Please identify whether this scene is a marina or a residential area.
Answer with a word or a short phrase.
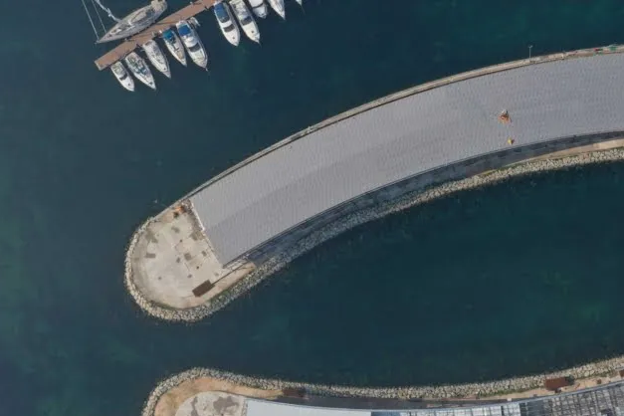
marina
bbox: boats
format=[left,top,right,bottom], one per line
[143,36,173,78]
[209,2,240,47]
[228,0,261,45]
[245,0,267,20]
[159,27,188,67]
[265,0,286,21]
[78,0,172,44]
[112,58,136,91]
[125,48,157,90]
[175,20,210,70]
